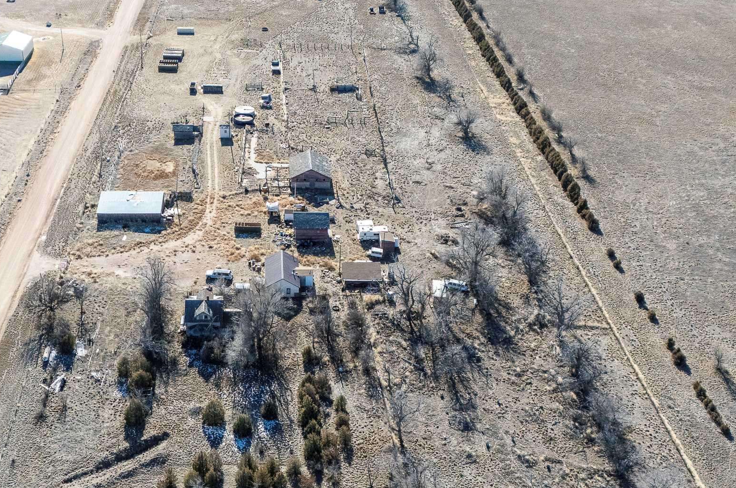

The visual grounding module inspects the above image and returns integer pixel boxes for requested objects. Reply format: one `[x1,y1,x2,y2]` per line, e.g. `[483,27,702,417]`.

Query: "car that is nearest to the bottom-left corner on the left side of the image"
[204,267,233,281]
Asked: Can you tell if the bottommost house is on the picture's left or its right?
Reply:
left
